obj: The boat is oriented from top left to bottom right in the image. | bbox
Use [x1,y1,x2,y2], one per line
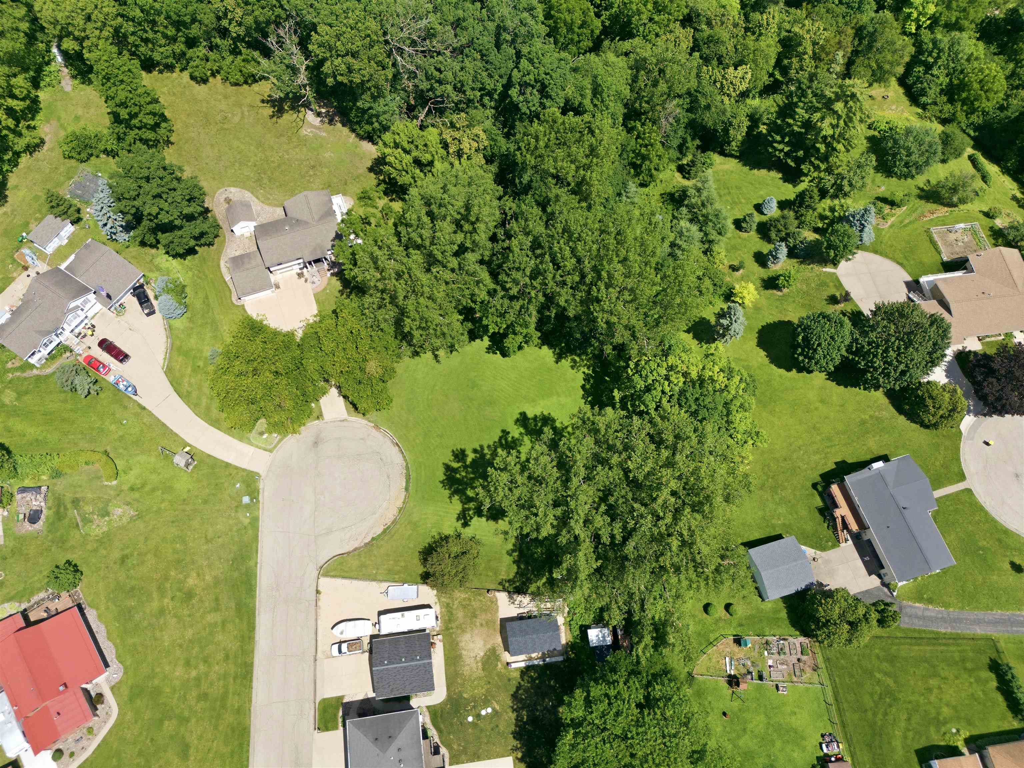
[111,376,136,395]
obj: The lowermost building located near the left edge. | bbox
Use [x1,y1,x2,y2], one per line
[0,591,113,755]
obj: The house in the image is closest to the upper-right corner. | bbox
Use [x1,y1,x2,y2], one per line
[908,248,1024,350]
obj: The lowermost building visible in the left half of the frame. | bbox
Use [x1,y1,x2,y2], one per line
[346,708,443,768]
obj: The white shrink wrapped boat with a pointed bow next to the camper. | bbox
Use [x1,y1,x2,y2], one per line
[331,617,373,637]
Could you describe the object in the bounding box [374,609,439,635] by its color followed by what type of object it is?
white vehicle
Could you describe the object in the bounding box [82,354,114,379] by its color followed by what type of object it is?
red car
